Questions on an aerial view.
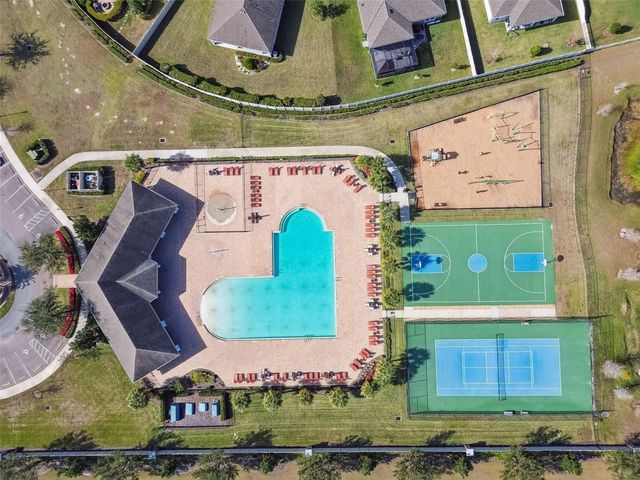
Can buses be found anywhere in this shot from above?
No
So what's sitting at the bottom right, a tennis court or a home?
tennis court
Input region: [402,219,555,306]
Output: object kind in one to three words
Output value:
basketball court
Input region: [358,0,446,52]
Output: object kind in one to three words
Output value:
house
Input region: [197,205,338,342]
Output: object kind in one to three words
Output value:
swimming pool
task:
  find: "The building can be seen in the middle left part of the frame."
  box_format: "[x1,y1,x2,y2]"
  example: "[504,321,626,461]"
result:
[75,180,182,382]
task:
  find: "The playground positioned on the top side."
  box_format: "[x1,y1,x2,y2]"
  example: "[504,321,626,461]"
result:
[410,91,542,209]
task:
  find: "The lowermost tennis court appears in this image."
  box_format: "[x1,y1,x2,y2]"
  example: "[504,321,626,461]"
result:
[406,321,592,412]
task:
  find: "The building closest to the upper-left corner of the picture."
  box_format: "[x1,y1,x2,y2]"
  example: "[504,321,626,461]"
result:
[208,0,287,59]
